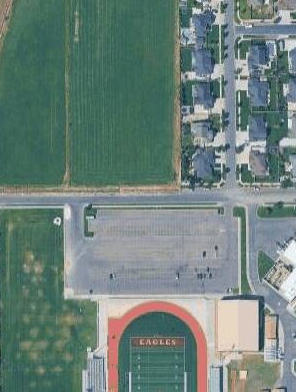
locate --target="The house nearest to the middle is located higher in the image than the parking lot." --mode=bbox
[192,150,215,178]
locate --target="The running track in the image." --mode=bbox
[107,301,207,392]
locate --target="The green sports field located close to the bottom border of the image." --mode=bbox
[118,313,196,392]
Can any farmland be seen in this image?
Yes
